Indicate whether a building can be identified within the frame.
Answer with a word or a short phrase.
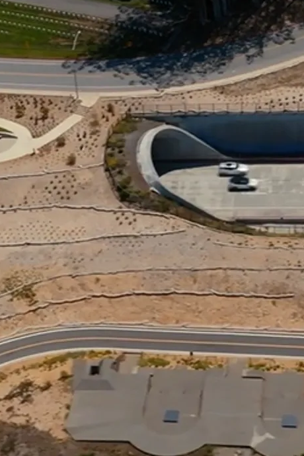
No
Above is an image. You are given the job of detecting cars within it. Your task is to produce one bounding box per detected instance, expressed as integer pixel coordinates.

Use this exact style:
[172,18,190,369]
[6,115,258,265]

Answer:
[230,177,258,191]
[218,164,247,177]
